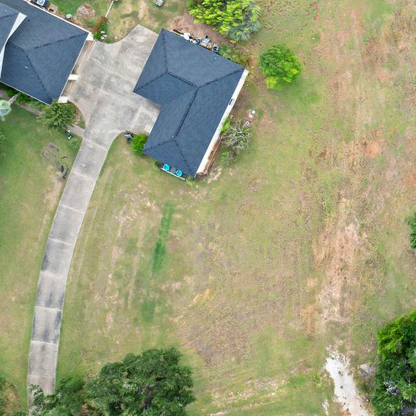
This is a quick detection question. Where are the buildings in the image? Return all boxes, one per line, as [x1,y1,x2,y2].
[0,0,99,105]
[132,29,253,178]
